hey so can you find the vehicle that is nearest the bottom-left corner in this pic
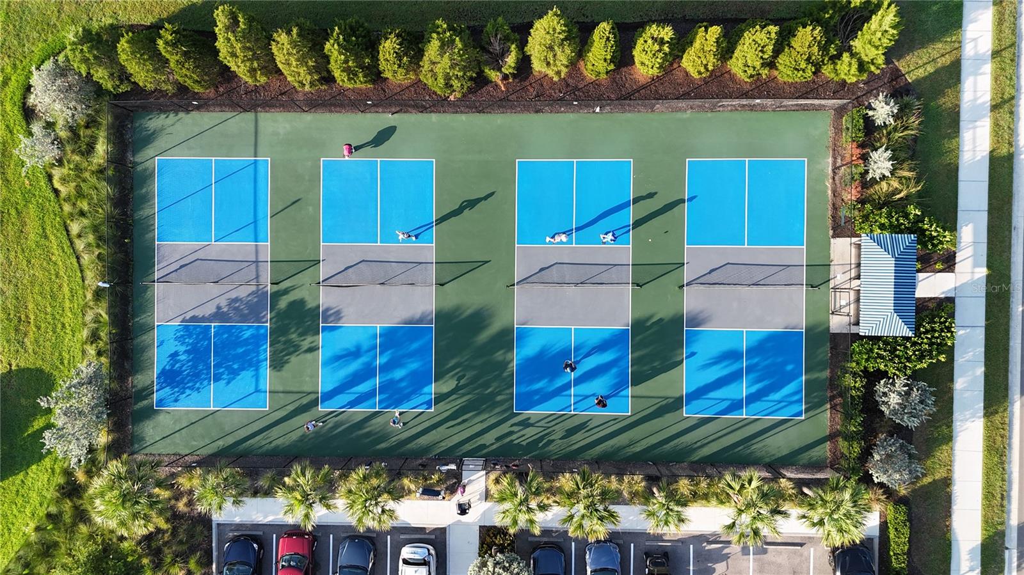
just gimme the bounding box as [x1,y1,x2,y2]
[215,534,262,575]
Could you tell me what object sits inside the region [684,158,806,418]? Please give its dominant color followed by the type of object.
blue sports court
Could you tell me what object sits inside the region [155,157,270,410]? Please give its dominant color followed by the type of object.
blue sports court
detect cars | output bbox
[272,528,319,575]
[578,539,619,575]
[530,542,567,575]
[215,534,262,575]
[824,544,870,575]
[400,542,439,575]
[332,534,378,575]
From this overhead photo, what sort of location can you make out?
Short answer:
sports ground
